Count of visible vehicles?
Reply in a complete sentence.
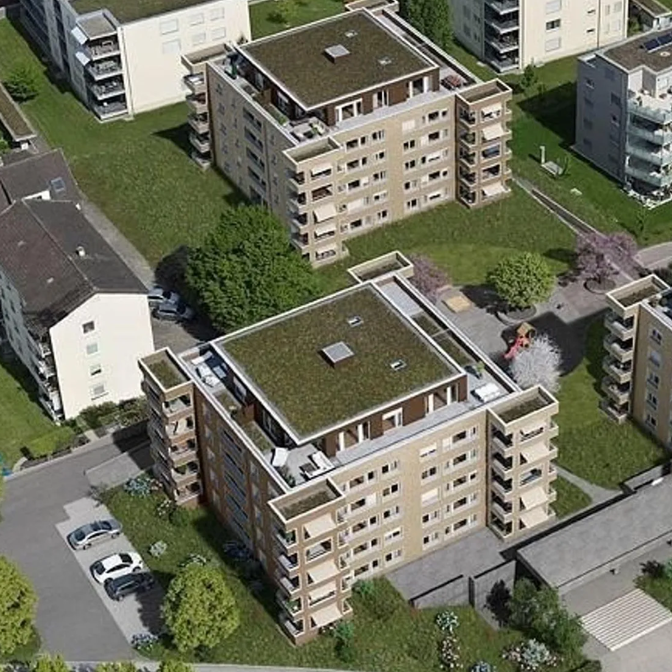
Altogether the scene contains 5 vehicles.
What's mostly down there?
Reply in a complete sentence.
The scene is dominated by buildings.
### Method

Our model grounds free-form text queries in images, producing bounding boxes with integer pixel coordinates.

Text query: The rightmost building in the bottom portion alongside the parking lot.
[137,250,559,642]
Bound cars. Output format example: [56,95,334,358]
[89,549,143,576]
[67,517,120,545]
[102,567,157,598]
[142,278,182,299]
[150,297,194,321]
